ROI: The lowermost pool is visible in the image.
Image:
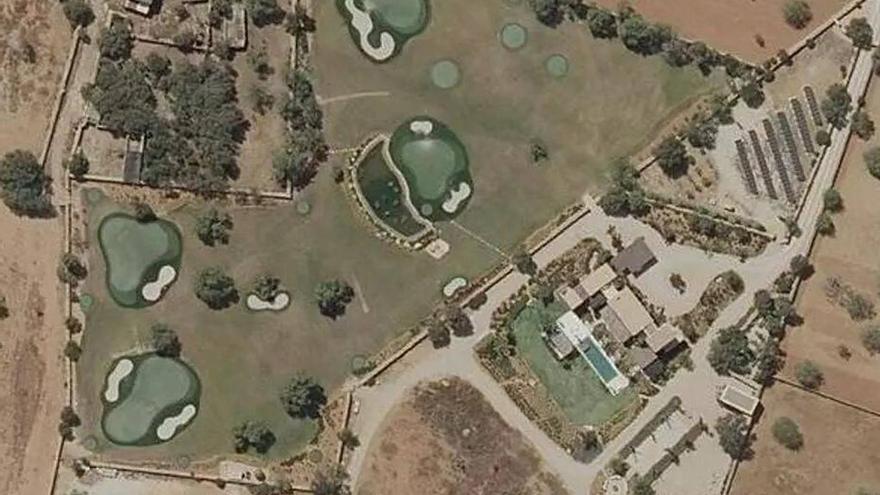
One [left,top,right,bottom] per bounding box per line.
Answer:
[557,311,629,394]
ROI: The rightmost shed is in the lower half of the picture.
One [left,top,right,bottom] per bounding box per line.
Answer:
[720,384,761,416]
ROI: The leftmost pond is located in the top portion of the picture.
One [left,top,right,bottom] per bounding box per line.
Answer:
[351,136,434,242]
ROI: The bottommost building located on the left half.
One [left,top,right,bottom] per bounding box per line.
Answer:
[226,9,245,49]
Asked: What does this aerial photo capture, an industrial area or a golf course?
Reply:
golf course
